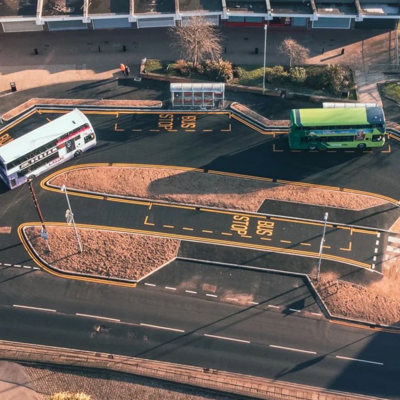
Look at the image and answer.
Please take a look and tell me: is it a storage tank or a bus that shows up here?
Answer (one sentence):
The image shows a bus.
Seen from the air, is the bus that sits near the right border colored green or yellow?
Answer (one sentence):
The bus that sits near the right border looks green in the image.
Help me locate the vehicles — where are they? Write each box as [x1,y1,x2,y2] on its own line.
[289,107,391,151]
[0,107,101,190]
